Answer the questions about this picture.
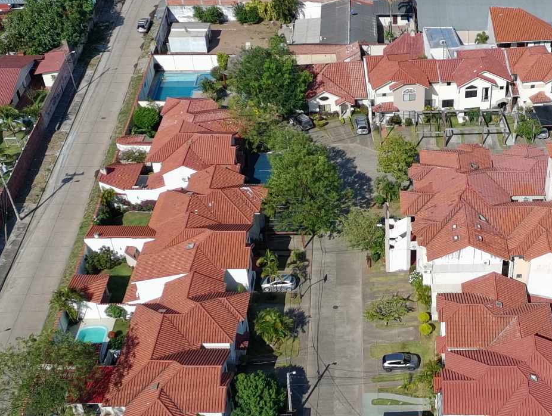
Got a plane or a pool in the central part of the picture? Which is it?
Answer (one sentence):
The feature located in the central part of the picture is a pool.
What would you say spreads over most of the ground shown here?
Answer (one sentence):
Most of the picture is covered by buildings.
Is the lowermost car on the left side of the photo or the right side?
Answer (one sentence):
It is on the right.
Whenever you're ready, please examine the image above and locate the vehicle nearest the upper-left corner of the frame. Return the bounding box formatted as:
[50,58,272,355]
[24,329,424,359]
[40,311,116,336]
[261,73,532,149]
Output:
[137,18,151,34]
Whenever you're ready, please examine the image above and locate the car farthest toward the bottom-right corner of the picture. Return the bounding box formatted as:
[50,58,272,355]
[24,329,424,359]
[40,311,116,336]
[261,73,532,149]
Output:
[379,350,422,374]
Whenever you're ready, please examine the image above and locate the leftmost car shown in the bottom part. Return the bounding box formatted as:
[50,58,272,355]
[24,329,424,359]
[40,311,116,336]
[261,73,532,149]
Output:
[261,274,296,293]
